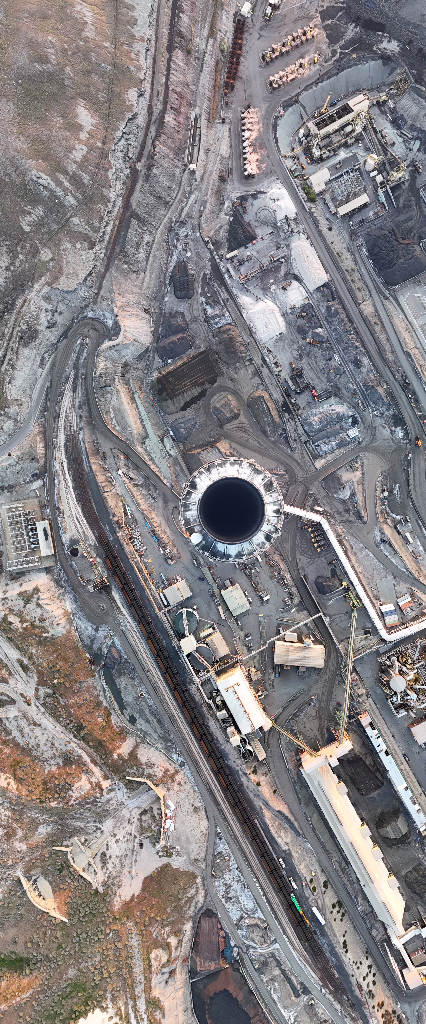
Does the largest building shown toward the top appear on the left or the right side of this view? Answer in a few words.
right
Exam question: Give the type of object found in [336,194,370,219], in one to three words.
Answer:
shed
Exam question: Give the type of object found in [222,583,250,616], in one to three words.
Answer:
building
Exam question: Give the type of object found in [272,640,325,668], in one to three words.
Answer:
building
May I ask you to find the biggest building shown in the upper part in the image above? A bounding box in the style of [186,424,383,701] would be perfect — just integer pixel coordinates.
[305,94,370,144]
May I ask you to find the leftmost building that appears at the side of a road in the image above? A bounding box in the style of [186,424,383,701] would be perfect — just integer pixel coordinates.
[36,520,56,556]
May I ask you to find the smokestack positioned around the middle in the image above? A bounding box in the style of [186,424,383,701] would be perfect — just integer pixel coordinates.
[179,457,285,563]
